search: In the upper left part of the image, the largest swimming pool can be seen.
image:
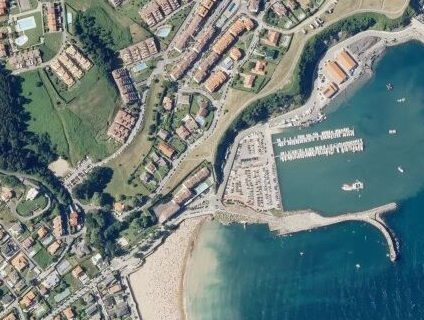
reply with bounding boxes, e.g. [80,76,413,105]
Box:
[15,16,36,31]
